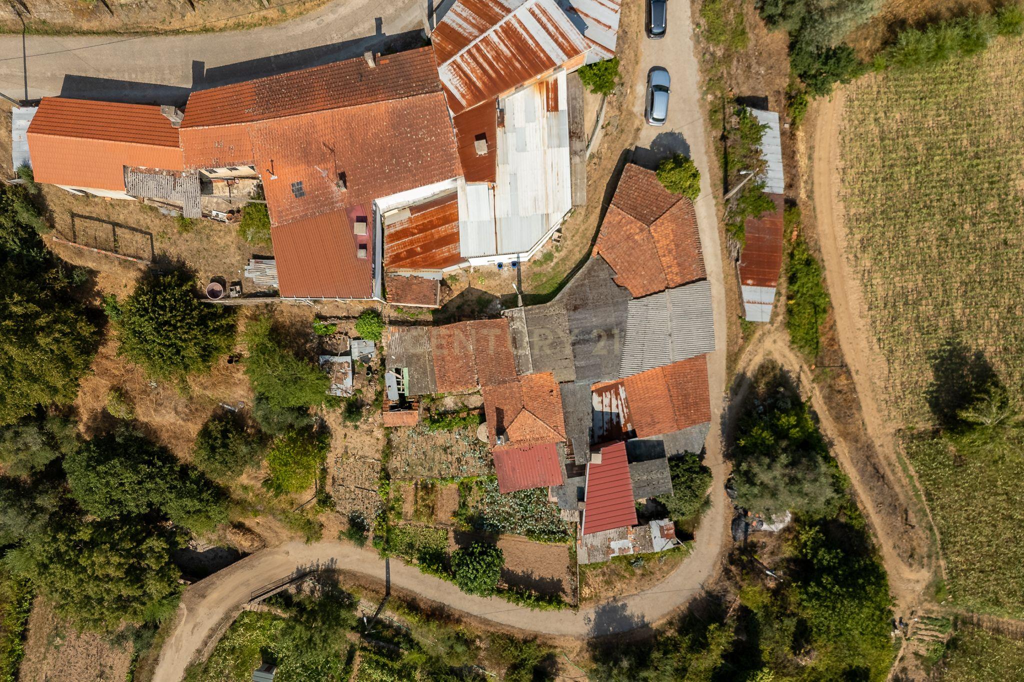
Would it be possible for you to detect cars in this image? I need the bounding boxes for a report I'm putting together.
[642,66,674,128]
[642,0,670,37]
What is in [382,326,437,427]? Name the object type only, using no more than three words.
shed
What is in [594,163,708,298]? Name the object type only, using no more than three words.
house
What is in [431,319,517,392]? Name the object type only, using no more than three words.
house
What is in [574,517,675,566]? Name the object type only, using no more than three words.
shed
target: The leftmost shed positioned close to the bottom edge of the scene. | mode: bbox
[252,653,287,682]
